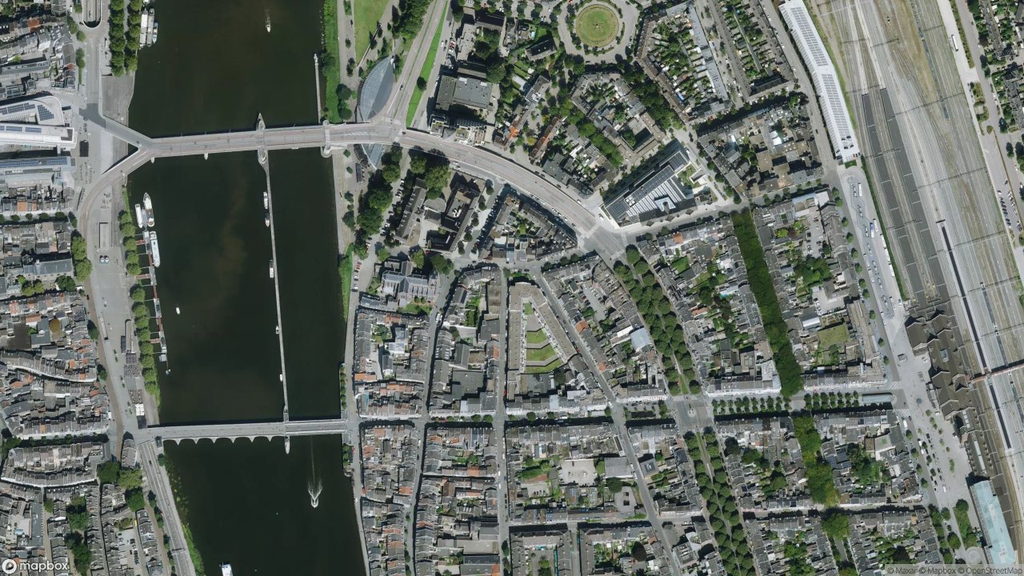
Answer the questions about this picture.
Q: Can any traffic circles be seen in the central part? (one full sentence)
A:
No, I see no traffic circle in the central part.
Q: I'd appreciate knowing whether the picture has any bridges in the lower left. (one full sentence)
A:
Yes, a bridge can be seen in the lower left.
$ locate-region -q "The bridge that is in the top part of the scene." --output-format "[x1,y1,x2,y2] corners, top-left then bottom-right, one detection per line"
[86,114,594,232]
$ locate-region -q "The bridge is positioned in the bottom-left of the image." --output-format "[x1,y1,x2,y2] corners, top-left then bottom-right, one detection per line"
[138,408,350,455]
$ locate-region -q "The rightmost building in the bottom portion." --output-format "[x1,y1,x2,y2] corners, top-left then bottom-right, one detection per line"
[969,480,1017,576]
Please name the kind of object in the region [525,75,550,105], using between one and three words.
building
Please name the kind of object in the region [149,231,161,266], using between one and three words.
boat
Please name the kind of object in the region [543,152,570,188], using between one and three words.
building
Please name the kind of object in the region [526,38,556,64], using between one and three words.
house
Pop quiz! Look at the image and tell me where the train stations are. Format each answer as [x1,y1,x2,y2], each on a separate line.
[905,314,991,479]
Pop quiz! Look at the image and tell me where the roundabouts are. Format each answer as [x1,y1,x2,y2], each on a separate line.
[572,2,622,50]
